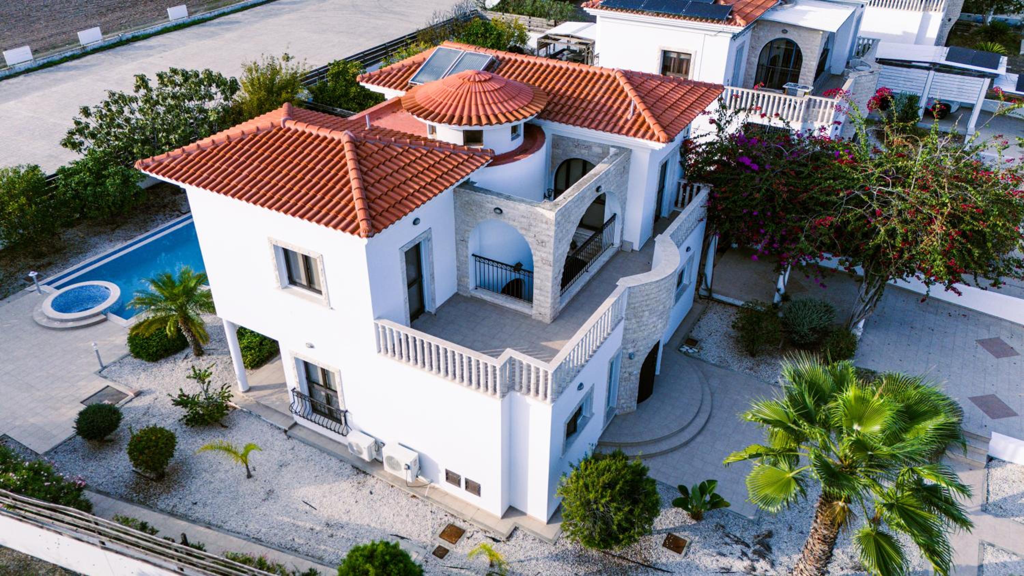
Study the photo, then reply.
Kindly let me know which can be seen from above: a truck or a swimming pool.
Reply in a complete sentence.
The image shows a swimming pool.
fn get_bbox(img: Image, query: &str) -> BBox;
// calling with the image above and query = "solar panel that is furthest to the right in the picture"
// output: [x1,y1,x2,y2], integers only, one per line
[951,46,1006,72]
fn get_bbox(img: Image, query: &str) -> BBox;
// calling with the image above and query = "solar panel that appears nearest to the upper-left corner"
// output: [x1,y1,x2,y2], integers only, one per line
[408,45,494,84]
